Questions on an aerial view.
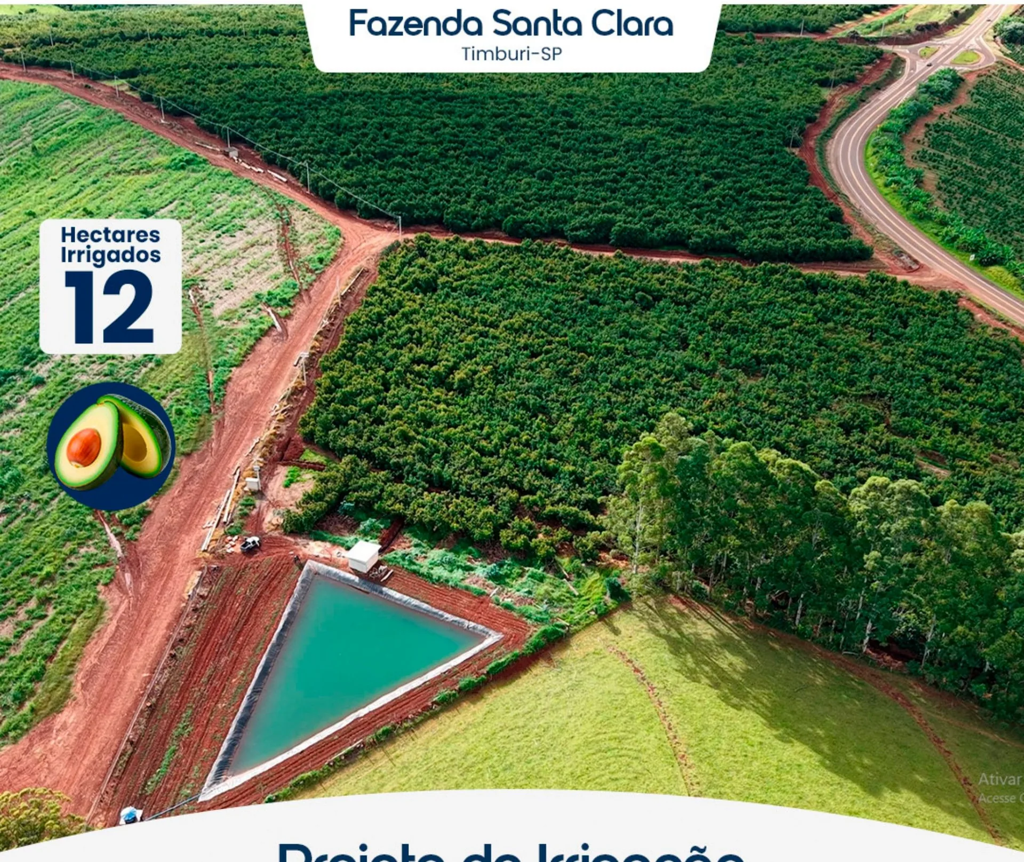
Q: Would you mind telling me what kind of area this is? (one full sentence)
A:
The picture captures farmland.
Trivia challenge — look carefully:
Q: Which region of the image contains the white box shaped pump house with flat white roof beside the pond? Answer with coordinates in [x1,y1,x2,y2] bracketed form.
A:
[343,536,384,569]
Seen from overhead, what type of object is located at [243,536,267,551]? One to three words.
vehicle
